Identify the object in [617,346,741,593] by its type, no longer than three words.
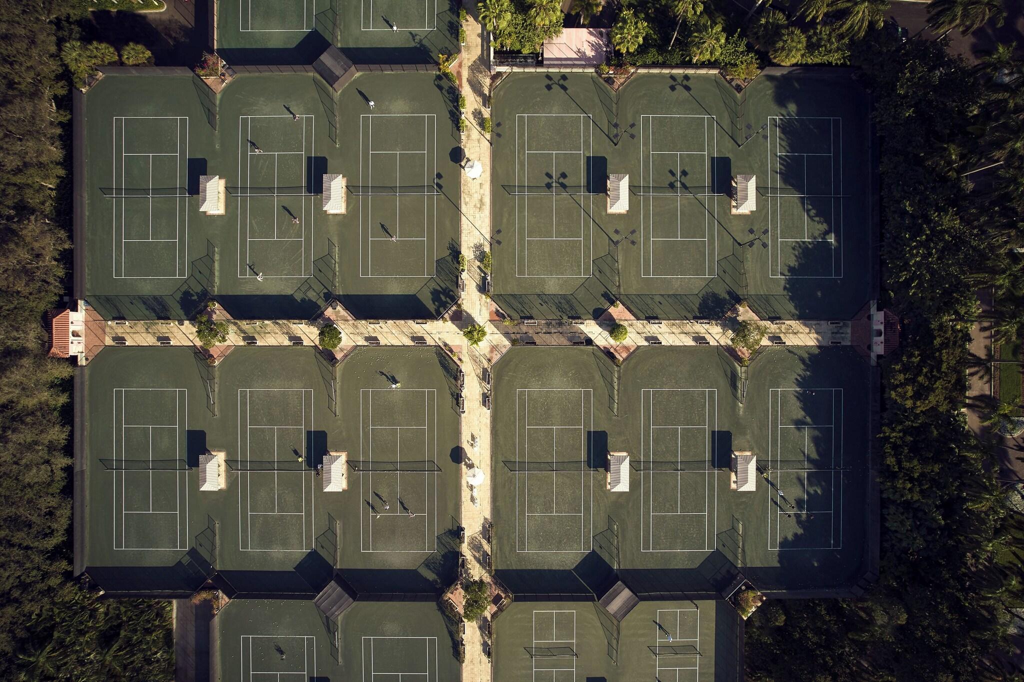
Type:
tennis court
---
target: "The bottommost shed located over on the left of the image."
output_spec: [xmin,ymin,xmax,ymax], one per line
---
[313,578,355,620]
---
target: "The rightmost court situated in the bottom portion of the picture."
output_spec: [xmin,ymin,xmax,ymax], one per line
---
[741,346,869,593]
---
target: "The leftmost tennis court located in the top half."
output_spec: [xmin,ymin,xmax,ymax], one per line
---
[86,74,217,320]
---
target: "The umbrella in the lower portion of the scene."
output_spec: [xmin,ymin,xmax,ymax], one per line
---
[467,466,485,484]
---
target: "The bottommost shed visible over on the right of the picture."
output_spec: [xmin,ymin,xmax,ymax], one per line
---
[600,578,642,620]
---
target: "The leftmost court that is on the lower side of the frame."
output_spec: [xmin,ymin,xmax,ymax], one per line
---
[86,346,217,593]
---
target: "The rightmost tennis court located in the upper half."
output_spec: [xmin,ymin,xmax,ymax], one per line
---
[741,74,869,320]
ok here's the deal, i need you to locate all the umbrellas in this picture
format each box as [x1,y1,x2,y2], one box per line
[465,162,483,180]
[467,466,485,484]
